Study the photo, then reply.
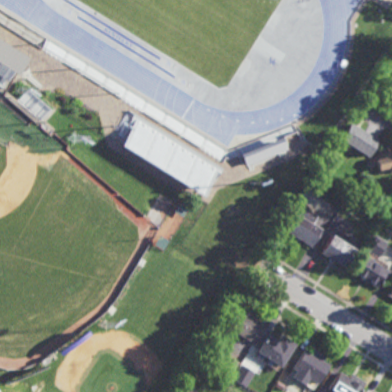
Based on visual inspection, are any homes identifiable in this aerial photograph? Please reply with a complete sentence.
Yes, there's a home here.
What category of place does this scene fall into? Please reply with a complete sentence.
This image shows a sports ground.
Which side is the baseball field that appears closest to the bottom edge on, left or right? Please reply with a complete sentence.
The baseball field that appears closest to the bottom edge appears in the left half of the scene.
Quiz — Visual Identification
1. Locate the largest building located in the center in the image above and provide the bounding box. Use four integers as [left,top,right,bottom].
[122,116,222,196]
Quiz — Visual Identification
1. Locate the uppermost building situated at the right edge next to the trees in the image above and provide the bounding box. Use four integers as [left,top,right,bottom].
[346,126,380,156]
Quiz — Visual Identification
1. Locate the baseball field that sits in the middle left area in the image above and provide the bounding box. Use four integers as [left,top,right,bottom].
[0,98,152,370]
